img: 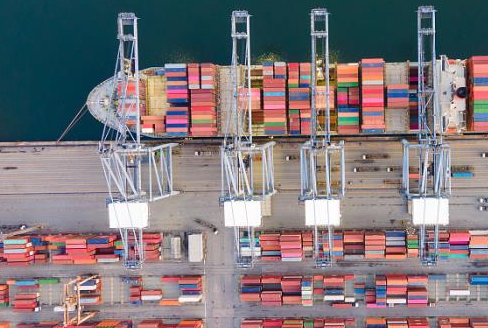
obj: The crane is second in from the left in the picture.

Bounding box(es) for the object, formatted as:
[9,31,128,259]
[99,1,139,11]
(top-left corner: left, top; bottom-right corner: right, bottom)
[92,11,187,269]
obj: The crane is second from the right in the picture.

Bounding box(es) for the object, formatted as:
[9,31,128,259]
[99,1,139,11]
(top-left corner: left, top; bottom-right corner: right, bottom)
[297,6,350,269]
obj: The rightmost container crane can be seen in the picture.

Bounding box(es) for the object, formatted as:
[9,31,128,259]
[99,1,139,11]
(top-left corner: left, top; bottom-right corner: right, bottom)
[396,4,452,269]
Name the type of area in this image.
port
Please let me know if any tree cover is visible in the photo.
No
